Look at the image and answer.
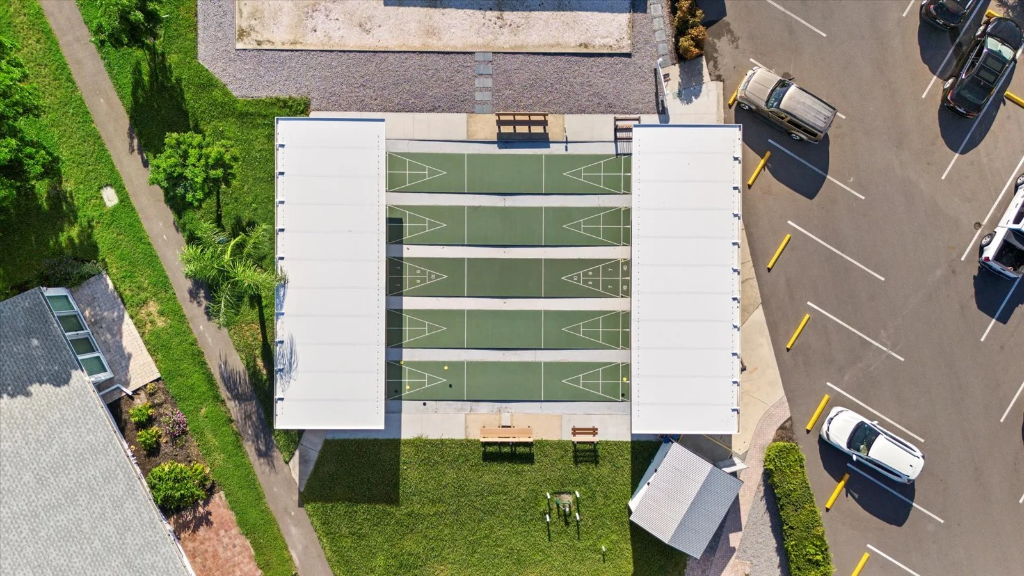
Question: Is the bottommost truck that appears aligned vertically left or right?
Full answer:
The bottommost truck that appears aligned vertically sits on the right side.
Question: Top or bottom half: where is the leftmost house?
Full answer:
It is in the bottom half that the leftmost house appears.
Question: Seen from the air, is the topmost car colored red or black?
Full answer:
The color of the topmost car is black.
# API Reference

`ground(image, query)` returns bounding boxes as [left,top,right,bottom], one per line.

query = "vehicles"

[938,19,1016,120]
[730,66,841,145]
[976,181,1024,287]
[923,0,977,35]
[818,407,924,483]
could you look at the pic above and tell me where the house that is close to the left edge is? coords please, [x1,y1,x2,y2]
[0,286,199,576]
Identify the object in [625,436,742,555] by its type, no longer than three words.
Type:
shed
